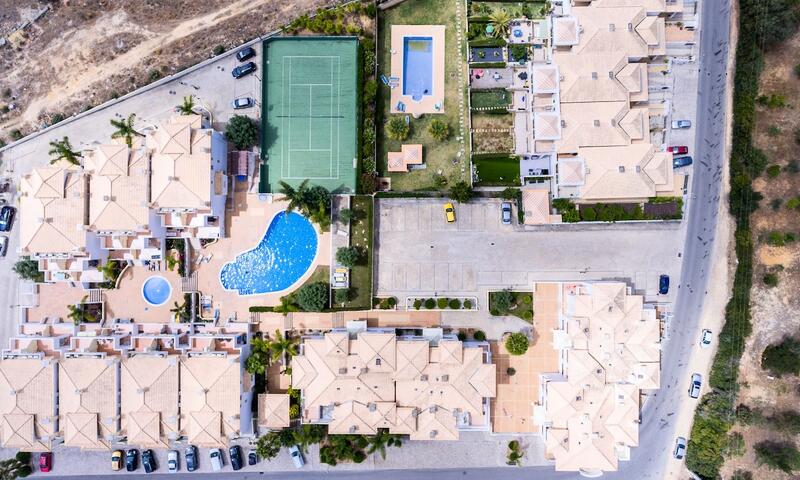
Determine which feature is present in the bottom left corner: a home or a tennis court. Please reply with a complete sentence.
Visible in the bottom left corner is a home.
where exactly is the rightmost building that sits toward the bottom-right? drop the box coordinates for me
[529,282,660,480]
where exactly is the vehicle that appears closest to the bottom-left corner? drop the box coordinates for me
[40,452,52,471]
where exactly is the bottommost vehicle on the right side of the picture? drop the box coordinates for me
[673,435,687,459]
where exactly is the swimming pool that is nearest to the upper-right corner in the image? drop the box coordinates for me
[390,25,445,118]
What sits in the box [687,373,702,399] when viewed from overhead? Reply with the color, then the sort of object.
white car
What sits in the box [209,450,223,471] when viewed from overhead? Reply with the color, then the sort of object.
white vehicle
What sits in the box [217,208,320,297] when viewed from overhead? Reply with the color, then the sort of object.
blue swimming pool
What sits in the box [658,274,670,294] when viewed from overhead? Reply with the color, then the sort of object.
blue vehicle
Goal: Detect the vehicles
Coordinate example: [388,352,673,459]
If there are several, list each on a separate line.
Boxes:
[233,97,254,109]
[670,120,690,129]
[0,206,16,230]
[112,449,123,470]
[40,452,52,471]
[127,447,139,469]
[167,450,179,471]
[237,47,256,61]
[445,202,455,223]
[0,235,9,256]
[673,435,687,459]
[184,446,198,471]
[658,274,670,294]
[501,202,511,224]
[229,446,242,471]
[247,449,258,466]
[290,446,305,469]
[141,450,157,473]
[209,450,223,471]
[673,156,692,167]
[666,145,687,155]
[687,373,702,399]
[232,62,256,79]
